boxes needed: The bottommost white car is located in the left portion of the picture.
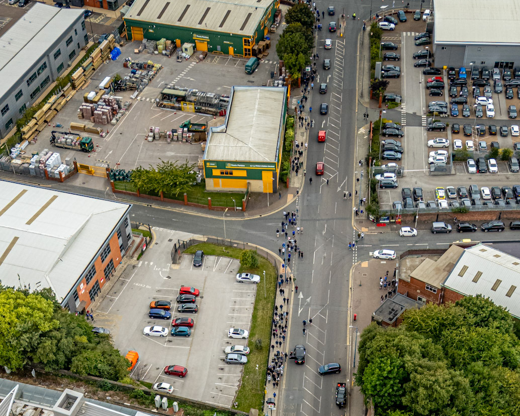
[152,382,175,396]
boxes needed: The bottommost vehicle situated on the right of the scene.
[334,385,348,408]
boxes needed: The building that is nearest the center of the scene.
[202,86,290,193]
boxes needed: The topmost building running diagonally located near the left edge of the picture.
[0,2,88,141]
